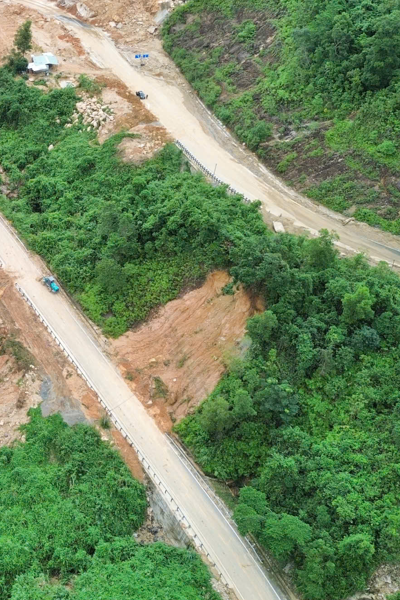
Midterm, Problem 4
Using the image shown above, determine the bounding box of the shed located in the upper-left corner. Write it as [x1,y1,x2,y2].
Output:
[28,52,59,73]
